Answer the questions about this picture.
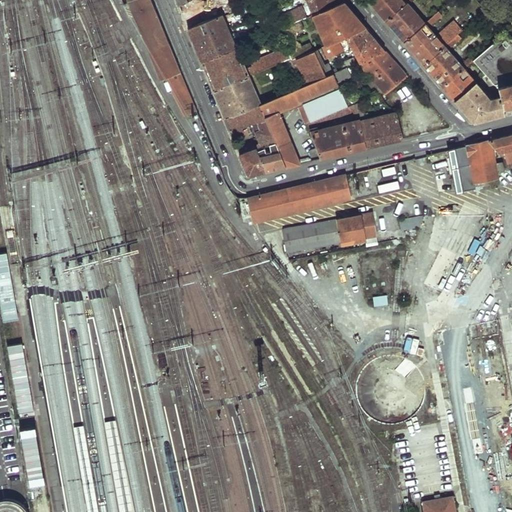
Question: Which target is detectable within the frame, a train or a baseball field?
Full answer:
I can see a train in this picture.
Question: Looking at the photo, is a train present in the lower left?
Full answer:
Yes, a train is visible in the lower left.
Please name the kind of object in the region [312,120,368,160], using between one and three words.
house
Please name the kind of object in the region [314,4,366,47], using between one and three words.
house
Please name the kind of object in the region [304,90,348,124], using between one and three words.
building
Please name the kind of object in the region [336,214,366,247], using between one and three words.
shed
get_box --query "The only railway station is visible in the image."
[20,240,264,512]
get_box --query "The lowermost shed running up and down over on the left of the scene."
[19,430,44,490]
